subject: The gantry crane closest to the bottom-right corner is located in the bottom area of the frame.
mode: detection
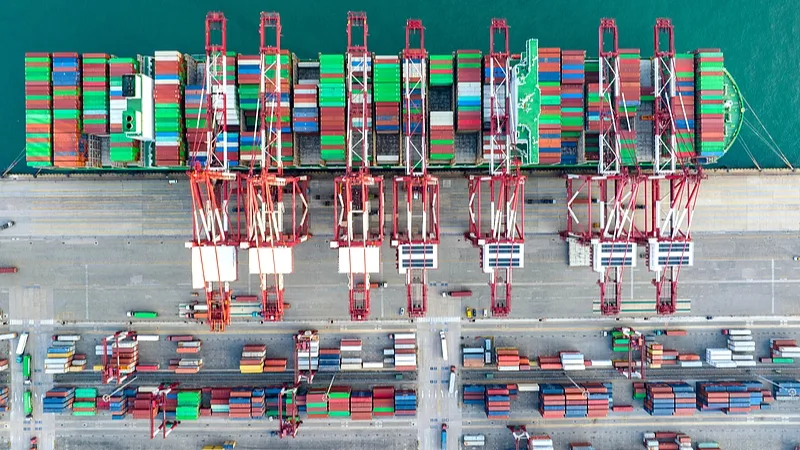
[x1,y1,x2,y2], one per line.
[612,330,646,384]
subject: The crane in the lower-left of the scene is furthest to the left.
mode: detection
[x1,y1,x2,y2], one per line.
[102,332,138,386]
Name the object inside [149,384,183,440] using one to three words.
container crane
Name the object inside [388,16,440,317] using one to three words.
container crane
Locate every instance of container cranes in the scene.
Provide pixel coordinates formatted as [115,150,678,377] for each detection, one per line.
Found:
[102,332,138,386]
[605,14,705,316]
[149,384,183,440]
[551,14,644,317]
[329,9,390,323]
[185,9,266,334]
[388,16,440,317]
[294,331,320,384]
[612,330,646,384]
[459,15,526,317]
[278,383,304,441]
[241,9,317,322]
